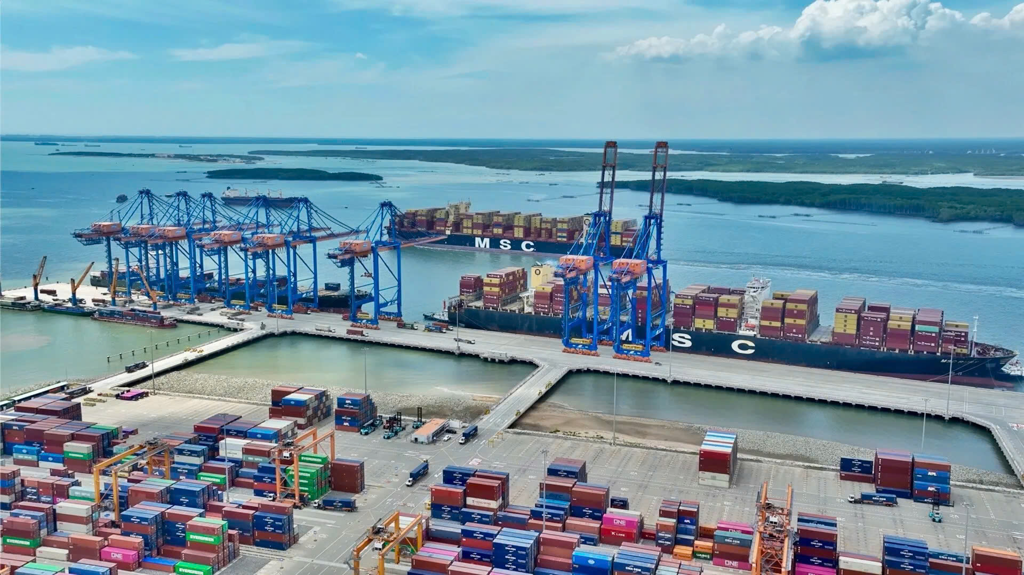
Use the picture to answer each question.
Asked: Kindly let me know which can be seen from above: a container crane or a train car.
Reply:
container crane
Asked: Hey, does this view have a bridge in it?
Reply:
Yes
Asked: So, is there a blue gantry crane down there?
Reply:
Yes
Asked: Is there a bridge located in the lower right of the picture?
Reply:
Yes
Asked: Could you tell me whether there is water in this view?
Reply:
Yes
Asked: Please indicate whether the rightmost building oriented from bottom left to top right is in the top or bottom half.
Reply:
bottom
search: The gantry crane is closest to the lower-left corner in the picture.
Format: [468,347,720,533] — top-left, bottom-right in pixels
[90,439,172,520]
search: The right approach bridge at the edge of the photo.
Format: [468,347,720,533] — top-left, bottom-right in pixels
[989,421,1024,480]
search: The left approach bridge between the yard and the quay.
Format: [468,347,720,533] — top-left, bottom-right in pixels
[90,329,280,388]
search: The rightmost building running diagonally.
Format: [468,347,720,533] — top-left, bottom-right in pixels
[407,411,454,441]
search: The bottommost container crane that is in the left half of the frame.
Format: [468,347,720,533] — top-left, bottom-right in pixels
[342,508,427,575]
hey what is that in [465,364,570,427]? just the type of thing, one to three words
bridge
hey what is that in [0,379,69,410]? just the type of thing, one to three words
shed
